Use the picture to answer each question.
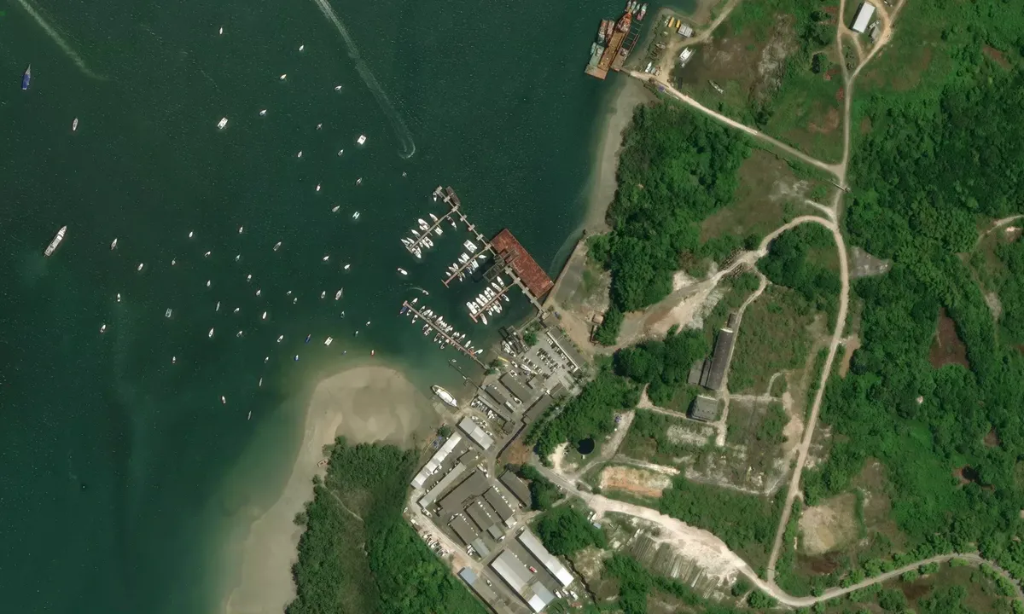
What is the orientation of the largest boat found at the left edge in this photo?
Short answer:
diagonally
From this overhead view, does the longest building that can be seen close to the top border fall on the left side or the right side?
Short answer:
right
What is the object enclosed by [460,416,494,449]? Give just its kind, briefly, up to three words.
building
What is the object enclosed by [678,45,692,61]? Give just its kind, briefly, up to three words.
boat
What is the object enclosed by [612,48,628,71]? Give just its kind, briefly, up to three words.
ship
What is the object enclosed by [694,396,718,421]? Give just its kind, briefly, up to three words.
building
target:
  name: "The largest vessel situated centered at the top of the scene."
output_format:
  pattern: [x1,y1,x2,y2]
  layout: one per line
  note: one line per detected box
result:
[598,12,631,72]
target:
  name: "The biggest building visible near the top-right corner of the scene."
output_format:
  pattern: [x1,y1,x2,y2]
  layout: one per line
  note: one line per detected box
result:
[853,1,875,32]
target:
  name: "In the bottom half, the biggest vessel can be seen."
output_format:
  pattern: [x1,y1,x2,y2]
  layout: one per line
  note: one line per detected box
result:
[431,386,458,408]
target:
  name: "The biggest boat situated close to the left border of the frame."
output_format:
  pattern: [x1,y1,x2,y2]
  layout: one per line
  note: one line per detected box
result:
[43,227,66,255]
